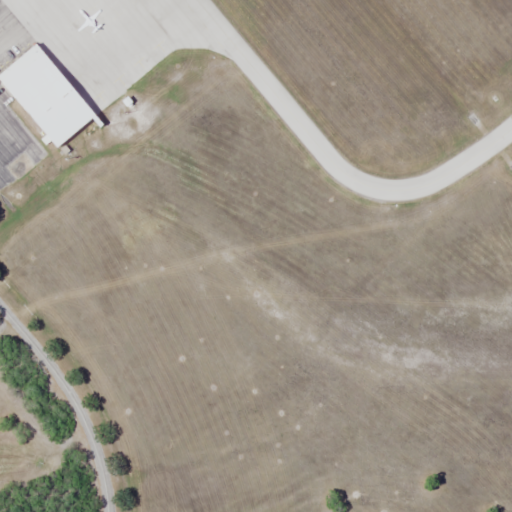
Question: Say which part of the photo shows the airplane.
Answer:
top left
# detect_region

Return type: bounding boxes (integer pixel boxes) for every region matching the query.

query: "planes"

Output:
[79,10,102,33]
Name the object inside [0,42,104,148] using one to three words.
hangar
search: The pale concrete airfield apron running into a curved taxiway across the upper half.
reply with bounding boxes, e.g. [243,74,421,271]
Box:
[0,0,512,204]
